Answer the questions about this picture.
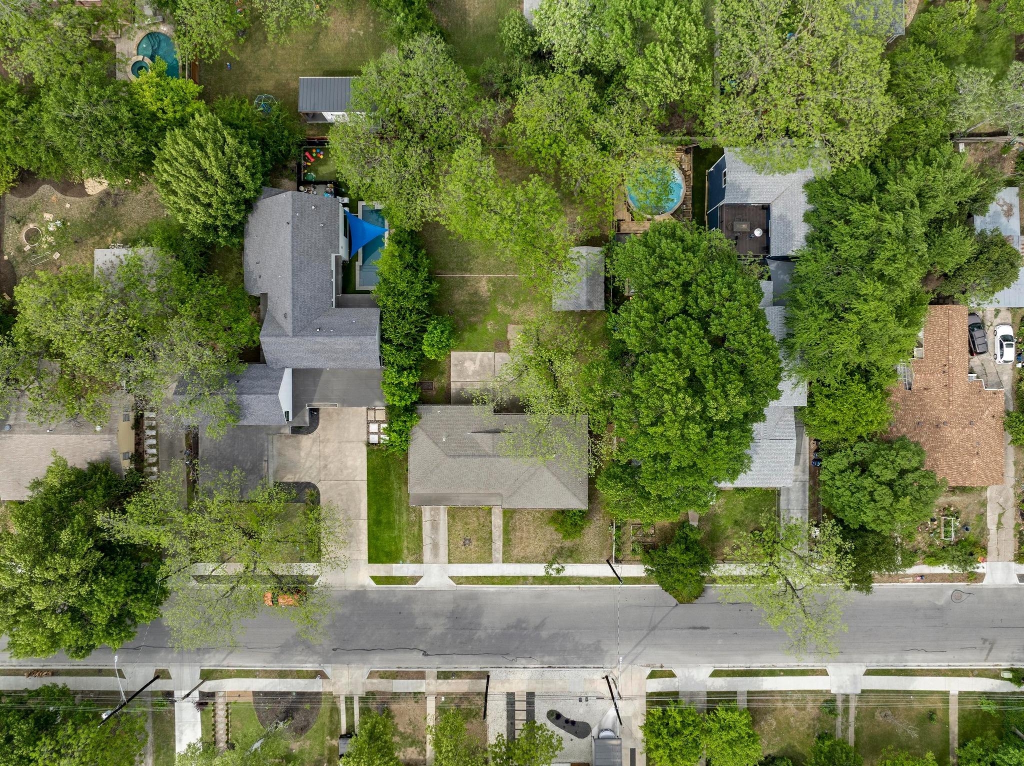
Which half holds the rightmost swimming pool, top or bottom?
top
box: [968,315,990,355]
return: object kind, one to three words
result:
car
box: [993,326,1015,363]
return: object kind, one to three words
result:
car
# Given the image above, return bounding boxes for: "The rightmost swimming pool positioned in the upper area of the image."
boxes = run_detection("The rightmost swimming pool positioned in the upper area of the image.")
[626,163,686,222]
